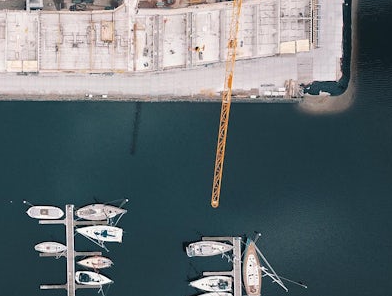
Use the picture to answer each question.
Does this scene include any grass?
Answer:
No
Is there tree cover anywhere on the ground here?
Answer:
No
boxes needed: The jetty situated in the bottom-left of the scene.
[38,204,108,296]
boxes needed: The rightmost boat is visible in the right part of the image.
[241,237,284,296]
